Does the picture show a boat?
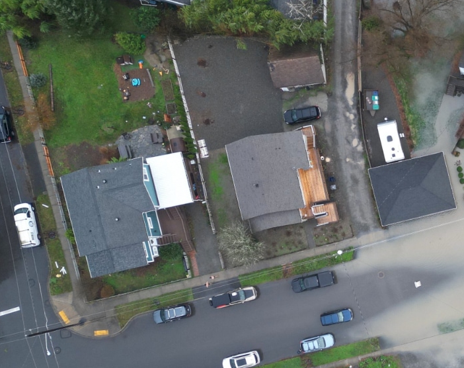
No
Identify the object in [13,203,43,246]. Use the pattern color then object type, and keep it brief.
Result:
white van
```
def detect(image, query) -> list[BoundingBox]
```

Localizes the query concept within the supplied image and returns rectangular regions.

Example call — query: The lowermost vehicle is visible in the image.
[221,348,264,368]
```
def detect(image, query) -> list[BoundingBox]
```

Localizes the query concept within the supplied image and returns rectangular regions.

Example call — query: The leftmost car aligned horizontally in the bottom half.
[153,302,194,324]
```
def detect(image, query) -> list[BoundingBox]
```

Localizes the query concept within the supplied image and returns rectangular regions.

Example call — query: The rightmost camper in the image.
[378,116,404,162]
